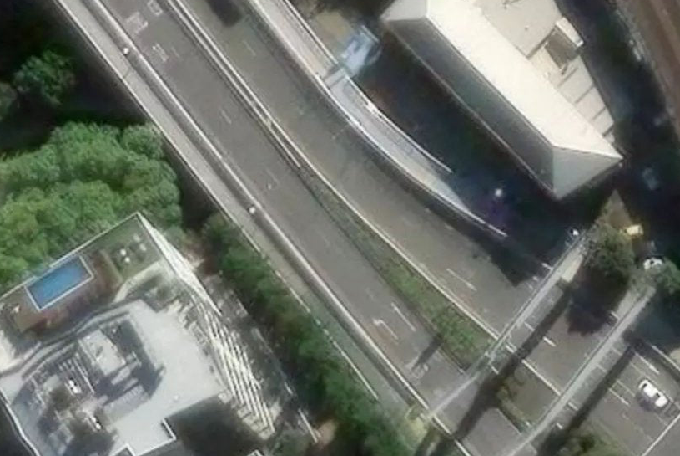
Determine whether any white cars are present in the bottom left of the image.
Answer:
No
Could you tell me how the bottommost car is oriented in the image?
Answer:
diagonally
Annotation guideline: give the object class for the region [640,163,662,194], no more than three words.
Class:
car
